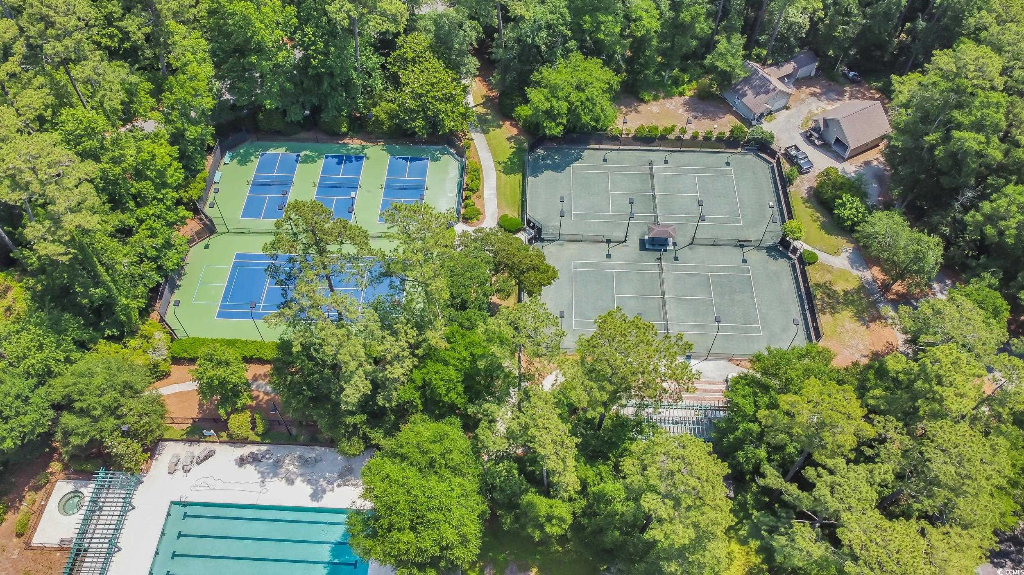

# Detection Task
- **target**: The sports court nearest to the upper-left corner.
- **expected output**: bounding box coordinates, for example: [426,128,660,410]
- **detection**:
[239,152,300,220]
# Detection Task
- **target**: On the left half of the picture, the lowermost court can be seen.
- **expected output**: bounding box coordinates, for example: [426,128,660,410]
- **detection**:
[187,253,405,327]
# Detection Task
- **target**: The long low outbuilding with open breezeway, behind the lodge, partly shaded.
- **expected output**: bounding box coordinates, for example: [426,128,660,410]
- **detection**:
[760,45,824,87]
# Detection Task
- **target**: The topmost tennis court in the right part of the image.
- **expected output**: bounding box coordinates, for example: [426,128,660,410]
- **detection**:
[526,147,783,246]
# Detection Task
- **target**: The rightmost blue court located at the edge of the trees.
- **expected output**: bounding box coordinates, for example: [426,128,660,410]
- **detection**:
[377,155,430,223]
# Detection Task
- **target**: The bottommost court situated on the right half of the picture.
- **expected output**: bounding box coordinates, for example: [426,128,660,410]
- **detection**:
[522,240,810,358]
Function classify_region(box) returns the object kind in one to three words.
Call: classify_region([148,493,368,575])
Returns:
swimming pool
